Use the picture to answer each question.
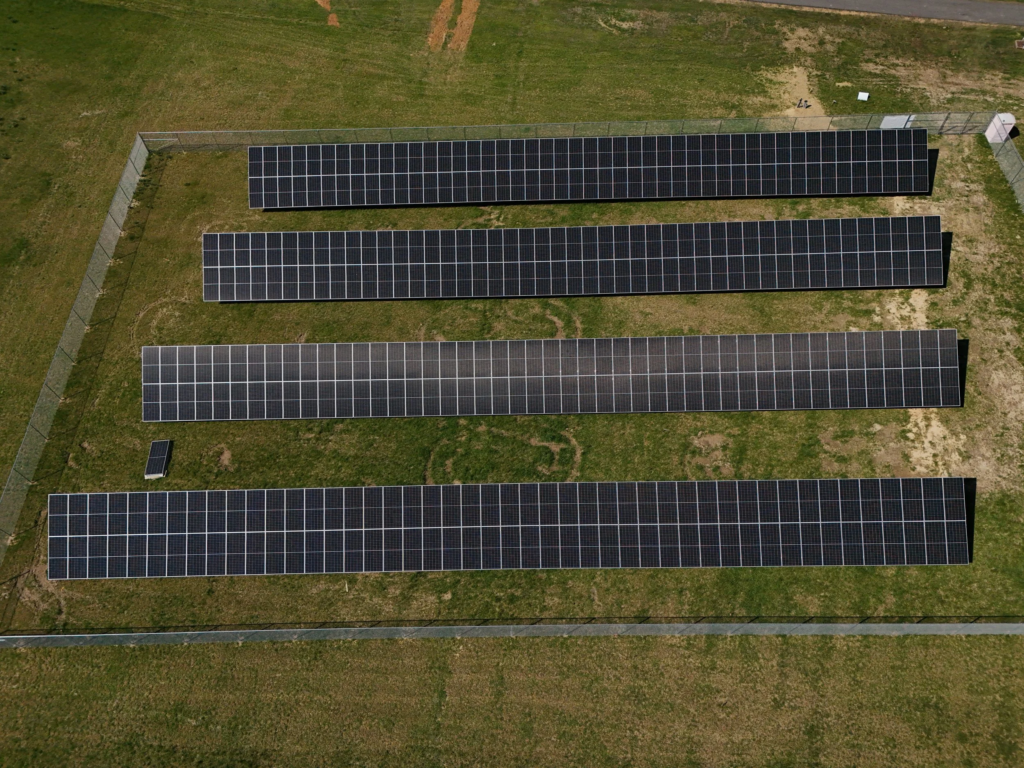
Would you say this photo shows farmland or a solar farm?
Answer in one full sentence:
This image shows a solar farm.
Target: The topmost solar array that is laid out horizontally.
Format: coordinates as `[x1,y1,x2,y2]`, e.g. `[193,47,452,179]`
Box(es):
[248,129,929,208]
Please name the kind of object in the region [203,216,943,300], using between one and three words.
solar array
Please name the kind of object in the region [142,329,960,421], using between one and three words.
solar array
